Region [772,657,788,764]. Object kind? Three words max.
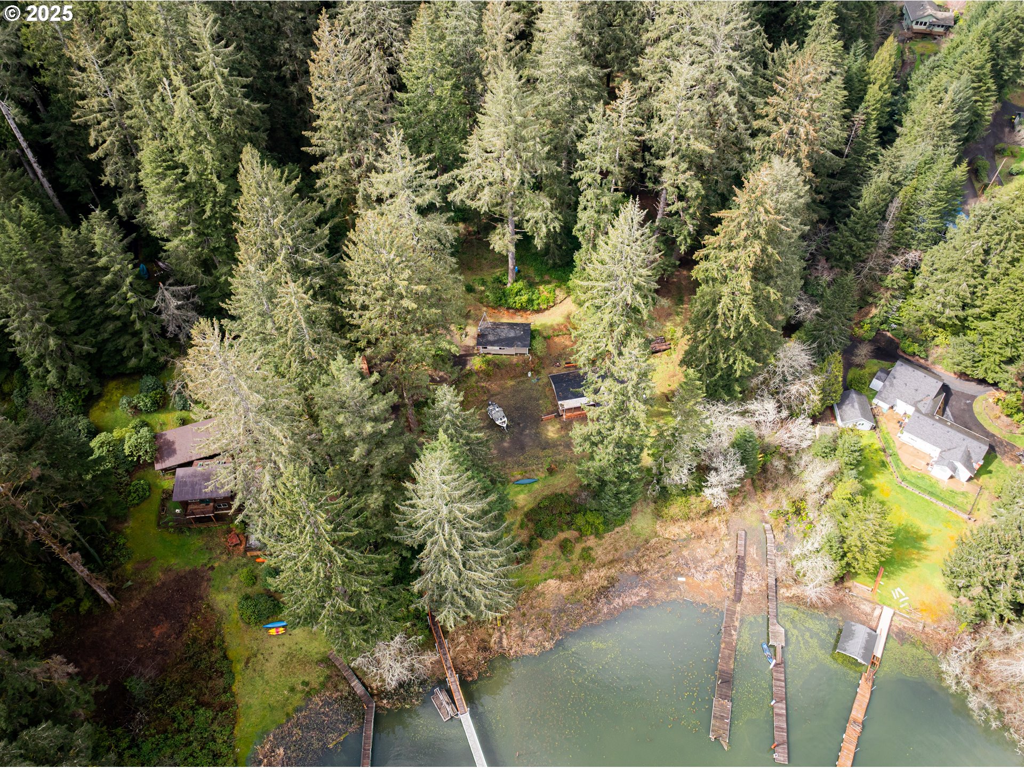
pier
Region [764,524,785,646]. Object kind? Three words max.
pier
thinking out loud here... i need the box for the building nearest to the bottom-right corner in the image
[833,620,873,669]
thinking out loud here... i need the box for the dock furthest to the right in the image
[836,672,873,768]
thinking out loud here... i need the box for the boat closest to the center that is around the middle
[487,395,506,424]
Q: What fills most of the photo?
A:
trees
